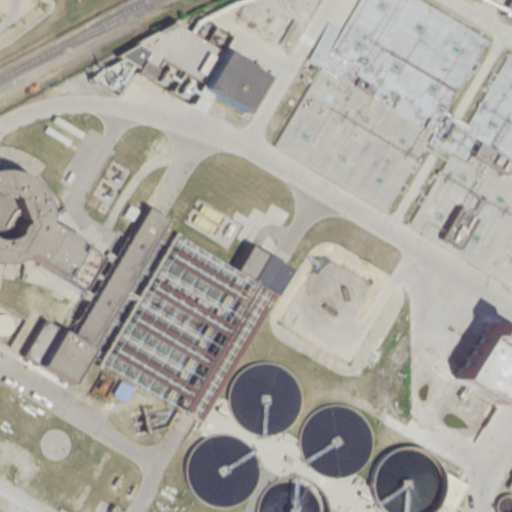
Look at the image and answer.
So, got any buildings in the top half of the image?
Yes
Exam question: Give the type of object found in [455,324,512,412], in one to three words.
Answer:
building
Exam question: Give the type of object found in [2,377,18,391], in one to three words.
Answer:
vehicle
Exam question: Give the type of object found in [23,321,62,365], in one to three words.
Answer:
shed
